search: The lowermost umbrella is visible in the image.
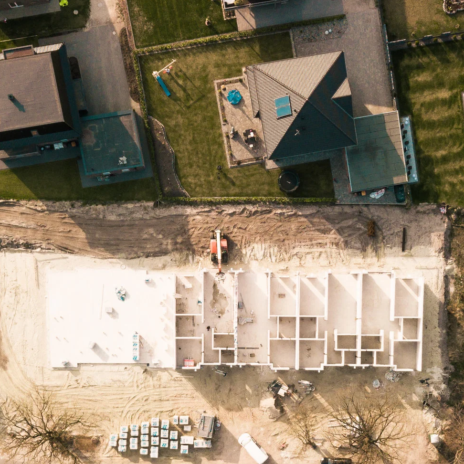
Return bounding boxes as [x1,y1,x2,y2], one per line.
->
[226,86,241,103]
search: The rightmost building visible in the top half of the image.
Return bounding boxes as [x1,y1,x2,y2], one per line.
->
[345,111,407,192]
